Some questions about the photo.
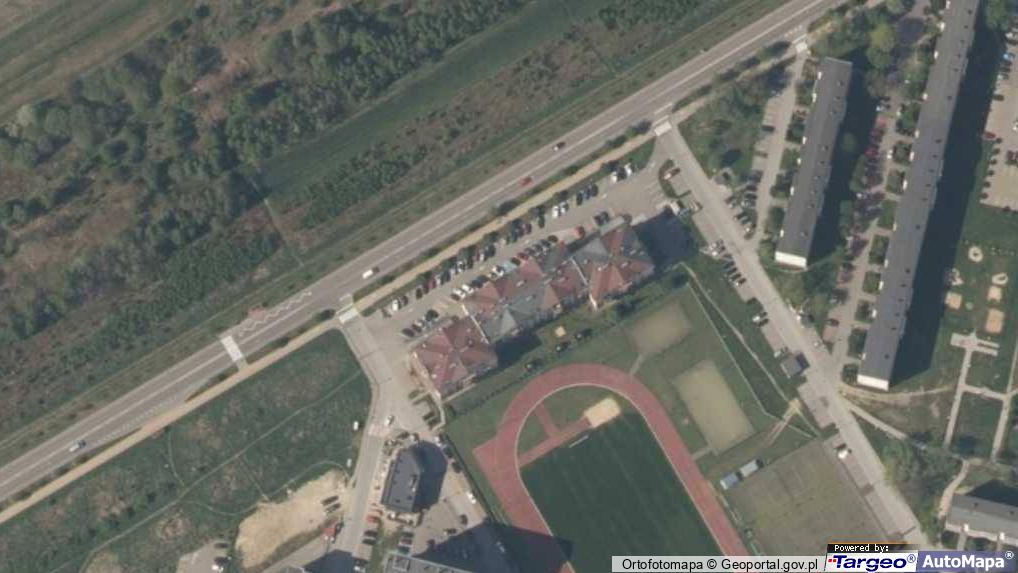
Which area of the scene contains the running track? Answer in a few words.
bottom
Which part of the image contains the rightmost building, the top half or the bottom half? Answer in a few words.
bottom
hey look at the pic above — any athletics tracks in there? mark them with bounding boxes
[474,364,752,573]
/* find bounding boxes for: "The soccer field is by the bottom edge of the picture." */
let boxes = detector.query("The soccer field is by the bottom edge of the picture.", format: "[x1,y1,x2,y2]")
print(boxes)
[523,398,727,573]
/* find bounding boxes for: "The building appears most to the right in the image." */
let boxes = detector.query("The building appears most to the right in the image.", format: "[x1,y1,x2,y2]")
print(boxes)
[944,494,1018,550]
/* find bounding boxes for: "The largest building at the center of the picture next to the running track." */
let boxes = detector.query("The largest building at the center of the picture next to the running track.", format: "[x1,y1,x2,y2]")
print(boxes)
[416,226,648,395]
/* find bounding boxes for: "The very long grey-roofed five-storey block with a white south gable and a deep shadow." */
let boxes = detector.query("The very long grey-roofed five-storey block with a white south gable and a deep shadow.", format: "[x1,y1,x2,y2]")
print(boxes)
[856,0,982,390]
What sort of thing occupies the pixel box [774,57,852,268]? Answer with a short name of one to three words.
building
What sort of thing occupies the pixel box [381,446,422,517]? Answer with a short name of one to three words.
building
